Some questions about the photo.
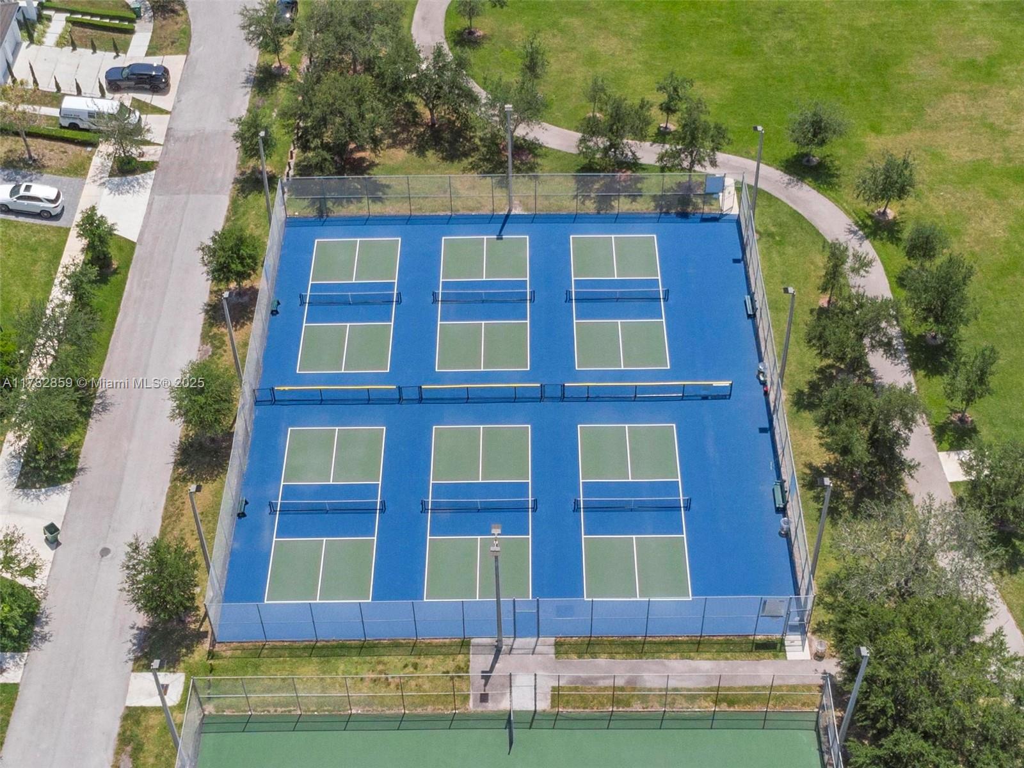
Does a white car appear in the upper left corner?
Yes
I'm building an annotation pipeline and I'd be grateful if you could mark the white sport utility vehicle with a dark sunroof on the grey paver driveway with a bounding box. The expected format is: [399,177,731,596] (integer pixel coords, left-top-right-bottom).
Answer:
[0,182,66,218]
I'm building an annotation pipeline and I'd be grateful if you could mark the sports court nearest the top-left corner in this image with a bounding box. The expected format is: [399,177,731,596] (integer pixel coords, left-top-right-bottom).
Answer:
[297,240,400,374]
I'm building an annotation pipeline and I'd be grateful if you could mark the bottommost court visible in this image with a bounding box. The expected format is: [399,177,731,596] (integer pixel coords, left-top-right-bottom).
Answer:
[195,709,827,768]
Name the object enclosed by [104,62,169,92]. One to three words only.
car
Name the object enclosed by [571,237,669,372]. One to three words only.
sports court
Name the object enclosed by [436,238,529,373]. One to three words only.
sports court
